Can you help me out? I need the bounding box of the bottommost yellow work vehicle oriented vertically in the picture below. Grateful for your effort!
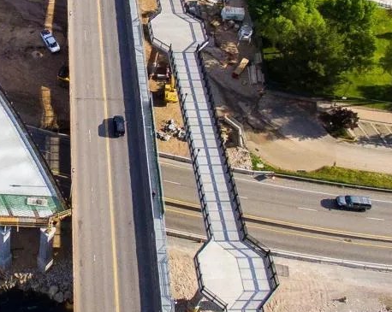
[164,71,177,102]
